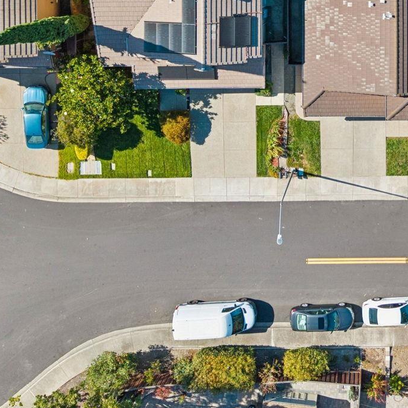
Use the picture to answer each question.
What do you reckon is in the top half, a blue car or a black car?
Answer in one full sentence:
The feature located in the top half is a blue car.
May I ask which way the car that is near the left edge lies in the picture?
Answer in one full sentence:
The car that is near the left edge runs from top to bottom in the image.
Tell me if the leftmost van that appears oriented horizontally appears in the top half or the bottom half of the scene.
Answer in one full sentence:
The leftmost van that appears oriented horizontally sits in the bottom half of the picture.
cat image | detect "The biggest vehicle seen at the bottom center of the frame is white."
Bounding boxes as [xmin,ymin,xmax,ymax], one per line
[171,296,258,339]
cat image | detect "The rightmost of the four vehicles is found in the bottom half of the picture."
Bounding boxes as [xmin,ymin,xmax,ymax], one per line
[363,294,408,324]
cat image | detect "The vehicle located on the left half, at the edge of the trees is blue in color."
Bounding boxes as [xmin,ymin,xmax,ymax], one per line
[20,85,53,148]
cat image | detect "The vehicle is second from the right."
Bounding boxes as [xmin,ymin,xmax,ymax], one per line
[290,299,354,333]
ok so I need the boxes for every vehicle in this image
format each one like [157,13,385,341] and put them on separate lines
[20,85,53,148]
[171,296,258,339]
[363,294,408,324]
[290,299,354,333]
